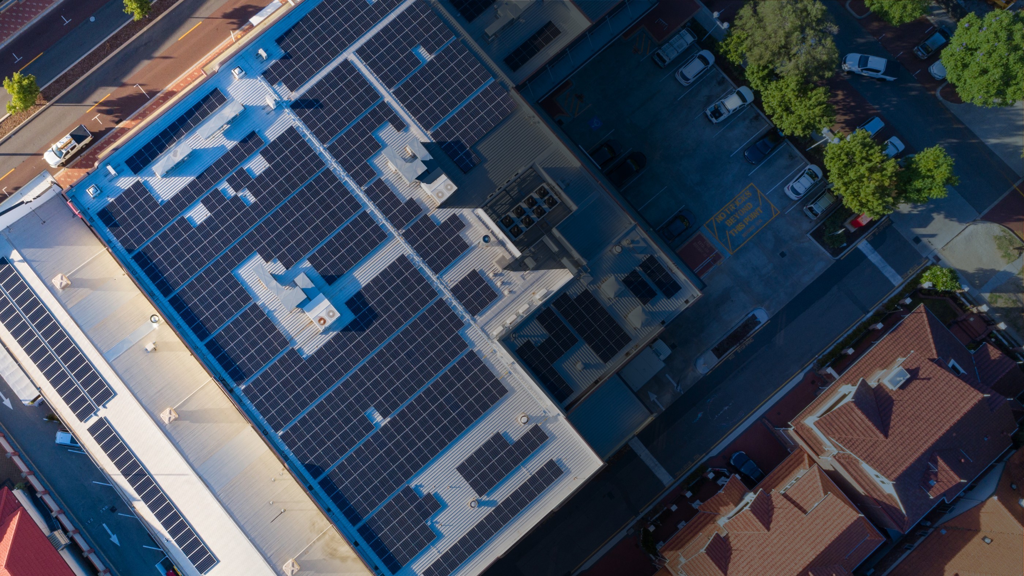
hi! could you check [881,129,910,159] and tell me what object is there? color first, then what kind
blue car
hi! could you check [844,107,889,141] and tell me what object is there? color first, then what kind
blue car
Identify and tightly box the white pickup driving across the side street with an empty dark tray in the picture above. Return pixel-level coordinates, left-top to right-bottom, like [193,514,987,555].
[841,52,898,83]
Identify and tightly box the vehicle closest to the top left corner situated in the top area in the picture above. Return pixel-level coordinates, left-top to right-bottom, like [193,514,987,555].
[45,124,96,169]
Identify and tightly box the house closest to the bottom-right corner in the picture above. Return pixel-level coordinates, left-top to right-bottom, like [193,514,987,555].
[893,446,1024,576]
